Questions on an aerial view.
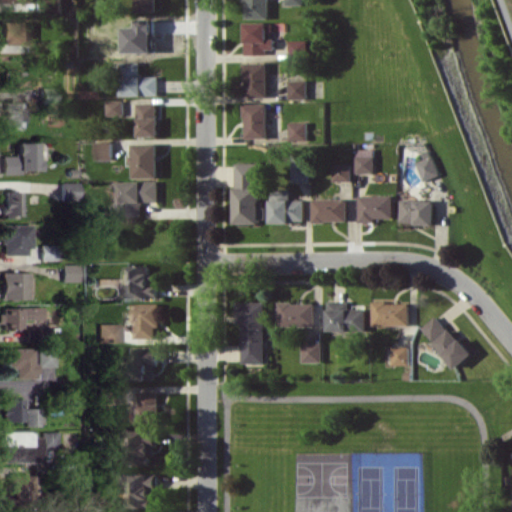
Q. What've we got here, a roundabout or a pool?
pool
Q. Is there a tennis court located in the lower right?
Yes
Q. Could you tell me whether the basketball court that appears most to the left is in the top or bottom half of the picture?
bottom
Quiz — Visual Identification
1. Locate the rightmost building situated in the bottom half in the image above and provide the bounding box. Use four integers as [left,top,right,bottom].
[424,320,470,370]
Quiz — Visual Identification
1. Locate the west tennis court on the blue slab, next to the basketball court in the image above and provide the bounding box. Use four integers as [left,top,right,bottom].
[352,454,388,512]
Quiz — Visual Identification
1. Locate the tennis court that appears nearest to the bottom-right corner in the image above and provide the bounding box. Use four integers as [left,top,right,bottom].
[388,454,424,512]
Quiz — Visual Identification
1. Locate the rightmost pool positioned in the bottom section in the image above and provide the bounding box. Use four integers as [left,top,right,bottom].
[420,352,442,370]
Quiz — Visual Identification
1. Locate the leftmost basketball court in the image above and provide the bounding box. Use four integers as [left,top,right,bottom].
[296,454,351,512]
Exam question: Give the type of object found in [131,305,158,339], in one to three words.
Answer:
house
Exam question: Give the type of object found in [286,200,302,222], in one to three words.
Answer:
building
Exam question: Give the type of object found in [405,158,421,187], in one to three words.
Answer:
swimming pool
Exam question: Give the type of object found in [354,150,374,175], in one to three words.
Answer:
building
